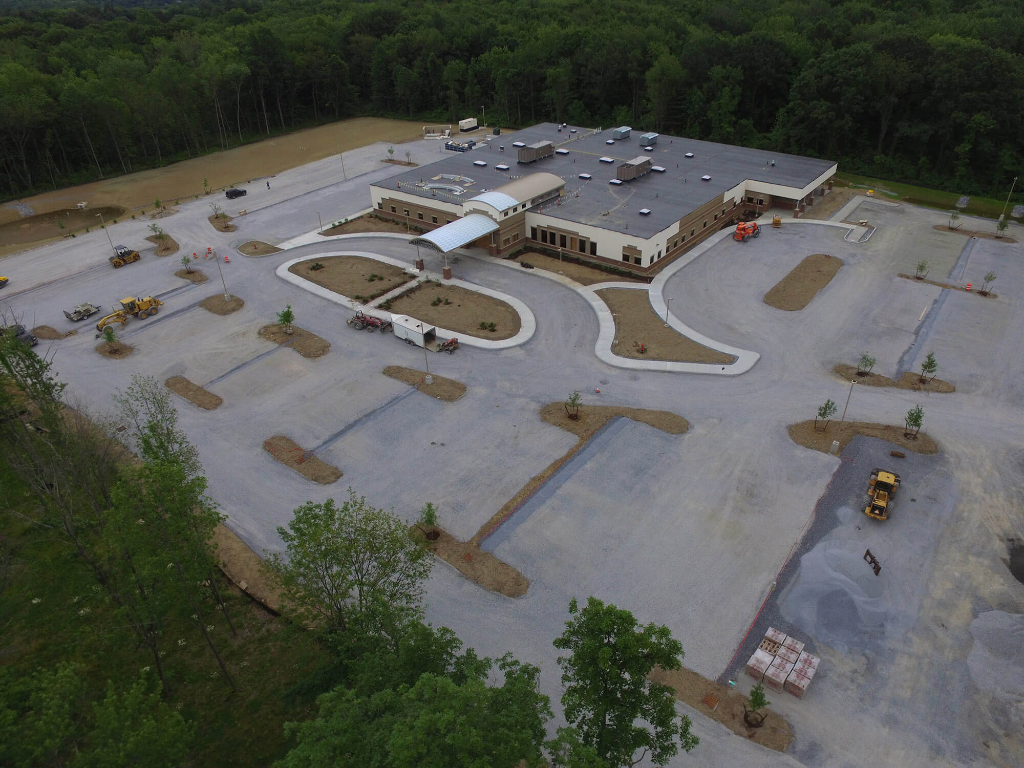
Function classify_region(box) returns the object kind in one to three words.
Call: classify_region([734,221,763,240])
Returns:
work vehicle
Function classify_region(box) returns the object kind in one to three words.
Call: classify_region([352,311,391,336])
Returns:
work vehicle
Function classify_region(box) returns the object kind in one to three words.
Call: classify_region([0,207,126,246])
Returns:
pond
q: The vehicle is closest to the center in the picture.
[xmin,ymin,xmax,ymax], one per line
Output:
[437,335,460,354]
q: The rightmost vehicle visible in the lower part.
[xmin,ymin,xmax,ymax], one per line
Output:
[863,467,903,520]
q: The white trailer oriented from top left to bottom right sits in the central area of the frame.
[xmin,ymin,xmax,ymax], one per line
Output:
[392,311,440,354]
